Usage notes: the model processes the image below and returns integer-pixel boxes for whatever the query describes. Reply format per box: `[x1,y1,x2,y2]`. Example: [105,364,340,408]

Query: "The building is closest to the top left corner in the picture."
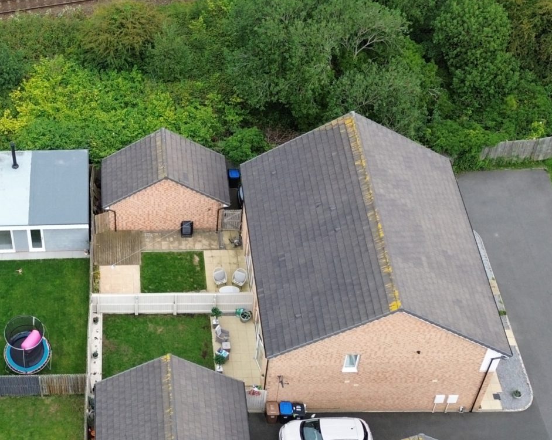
[100,127,232,233]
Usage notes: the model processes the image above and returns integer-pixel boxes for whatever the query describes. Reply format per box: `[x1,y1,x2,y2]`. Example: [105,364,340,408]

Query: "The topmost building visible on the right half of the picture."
[240,110,515,416]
